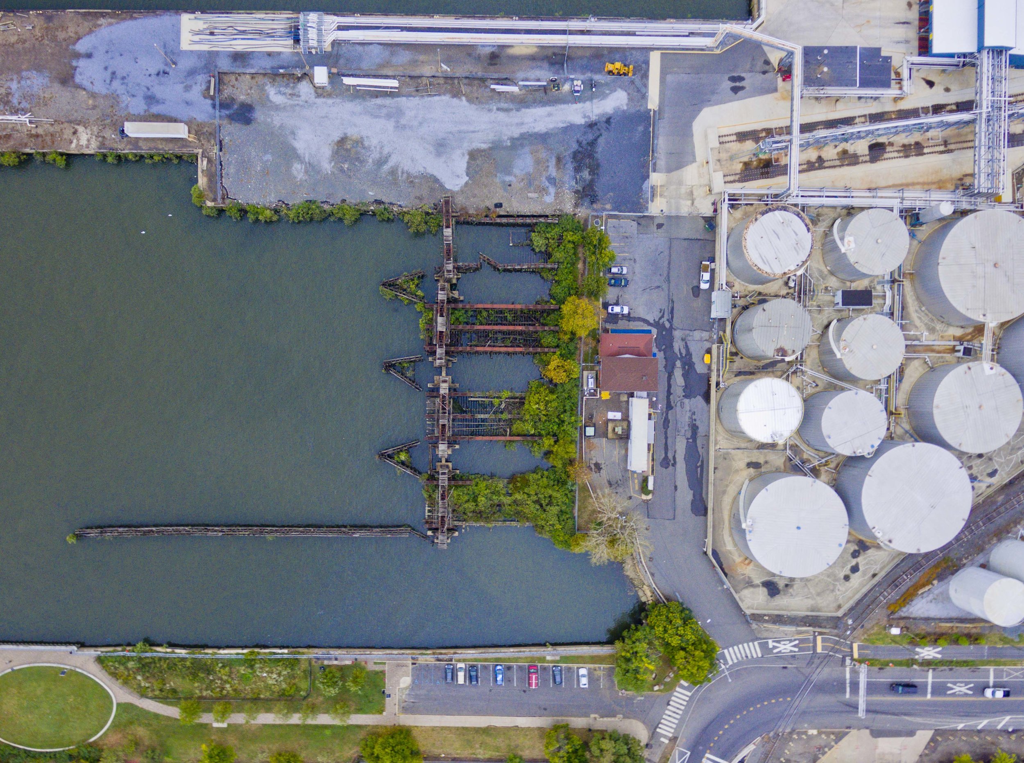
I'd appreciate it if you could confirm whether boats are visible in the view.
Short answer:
No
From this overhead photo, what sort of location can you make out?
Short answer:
industrial area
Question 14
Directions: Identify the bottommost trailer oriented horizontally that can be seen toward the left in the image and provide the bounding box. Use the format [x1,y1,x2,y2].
[125,122,191,139]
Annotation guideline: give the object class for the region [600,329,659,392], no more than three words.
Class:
building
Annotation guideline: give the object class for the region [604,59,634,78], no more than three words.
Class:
work vehicle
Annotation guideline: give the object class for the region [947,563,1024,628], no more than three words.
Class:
silo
